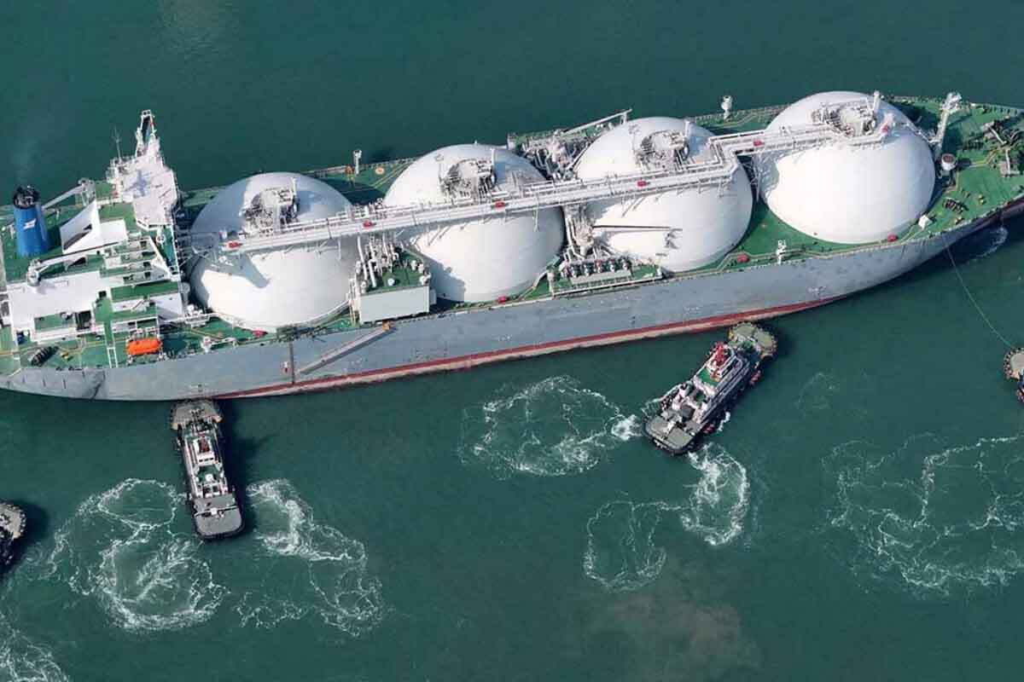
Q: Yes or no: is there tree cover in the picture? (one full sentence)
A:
No, there's no tree cover in this view.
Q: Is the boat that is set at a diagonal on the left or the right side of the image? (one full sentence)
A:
The boat that is set at a diagonal sits on the right side.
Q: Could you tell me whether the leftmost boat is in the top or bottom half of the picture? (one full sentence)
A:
Seen from above, the leftmost boat lies in the bottom half of the view.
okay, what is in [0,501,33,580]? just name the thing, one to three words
boat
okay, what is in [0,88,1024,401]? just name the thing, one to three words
ship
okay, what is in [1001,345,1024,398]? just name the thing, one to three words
boat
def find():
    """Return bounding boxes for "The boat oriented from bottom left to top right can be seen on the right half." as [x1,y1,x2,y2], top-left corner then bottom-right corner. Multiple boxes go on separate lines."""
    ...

[642,315,775,458]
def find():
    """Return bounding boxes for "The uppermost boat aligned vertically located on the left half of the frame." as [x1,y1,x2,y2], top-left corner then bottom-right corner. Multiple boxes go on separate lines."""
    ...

[170,396,246,540]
